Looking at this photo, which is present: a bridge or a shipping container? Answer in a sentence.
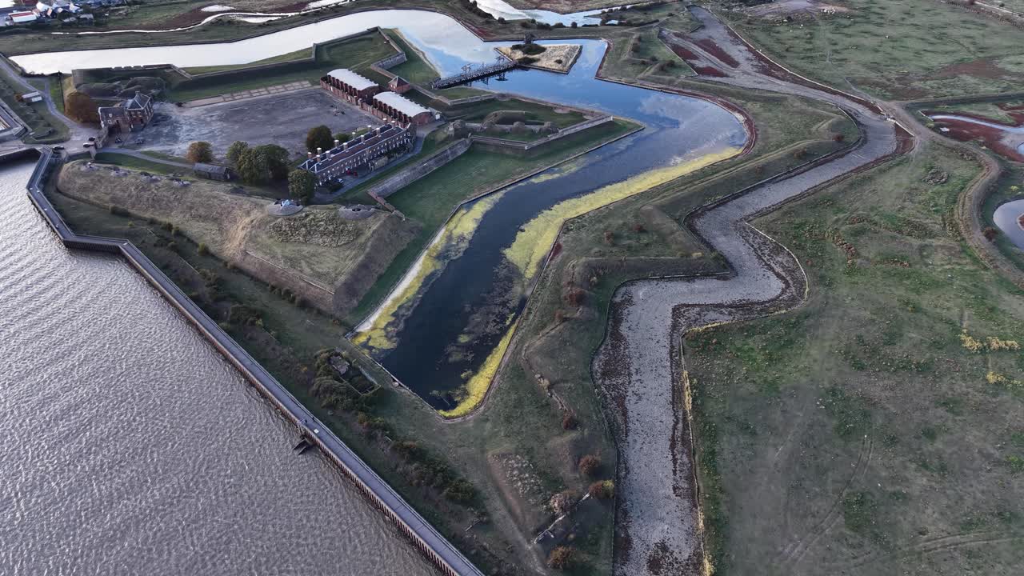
The image shows a bridge.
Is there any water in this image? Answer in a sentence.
Yes, the picture does contain water.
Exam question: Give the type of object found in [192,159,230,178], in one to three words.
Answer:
shed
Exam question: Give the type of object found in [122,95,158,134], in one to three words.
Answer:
house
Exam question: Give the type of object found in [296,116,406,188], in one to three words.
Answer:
building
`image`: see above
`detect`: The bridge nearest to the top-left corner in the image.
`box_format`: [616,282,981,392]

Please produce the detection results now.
[430,56,518,88]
